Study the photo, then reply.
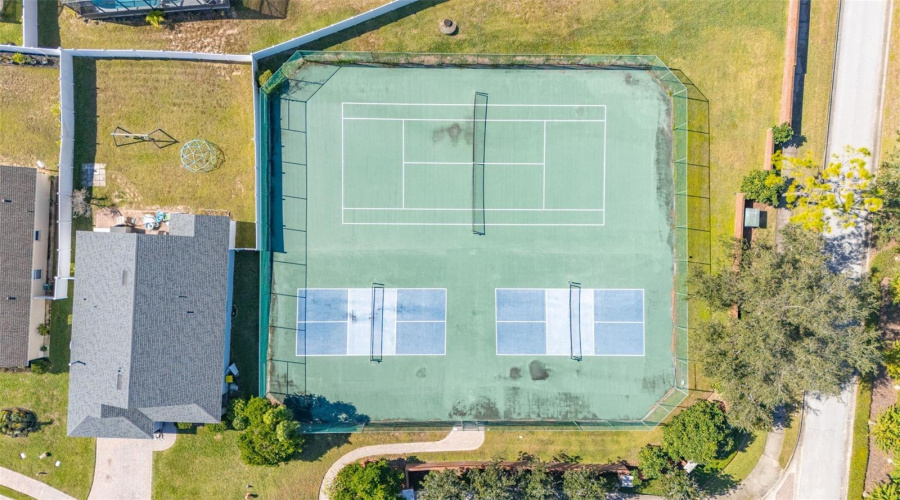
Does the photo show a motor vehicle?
No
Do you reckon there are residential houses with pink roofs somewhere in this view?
No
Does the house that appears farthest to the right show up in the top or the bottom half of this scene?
bottom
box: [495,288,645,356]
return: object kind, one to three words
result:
sports court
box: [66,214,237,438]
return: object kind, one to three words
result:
house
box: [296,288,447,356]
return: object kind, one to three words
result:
sports court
